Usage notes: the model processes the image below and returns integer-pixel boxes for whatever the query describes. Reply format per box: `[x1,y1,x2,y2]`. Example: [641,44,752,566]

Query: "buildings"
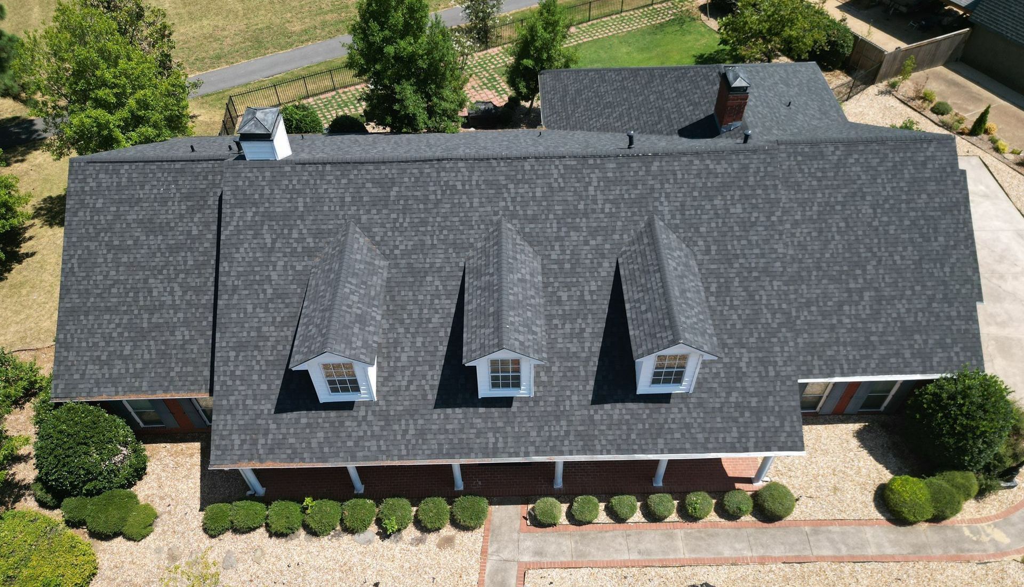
[50,62,987,509]
[954,0,1024,93]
